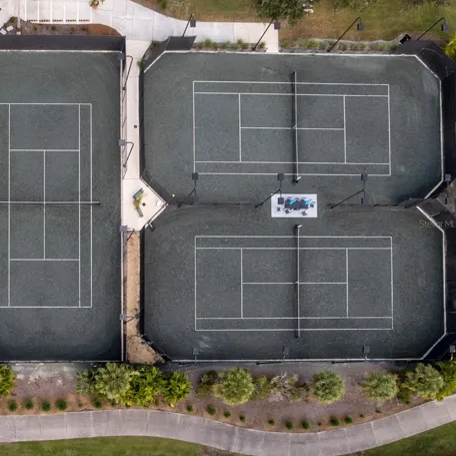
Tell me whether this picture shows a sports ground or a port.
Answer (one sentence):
It's a sports ground.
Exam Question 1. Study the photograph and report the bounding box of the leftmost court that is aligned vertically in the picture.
[0,49,123,362]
